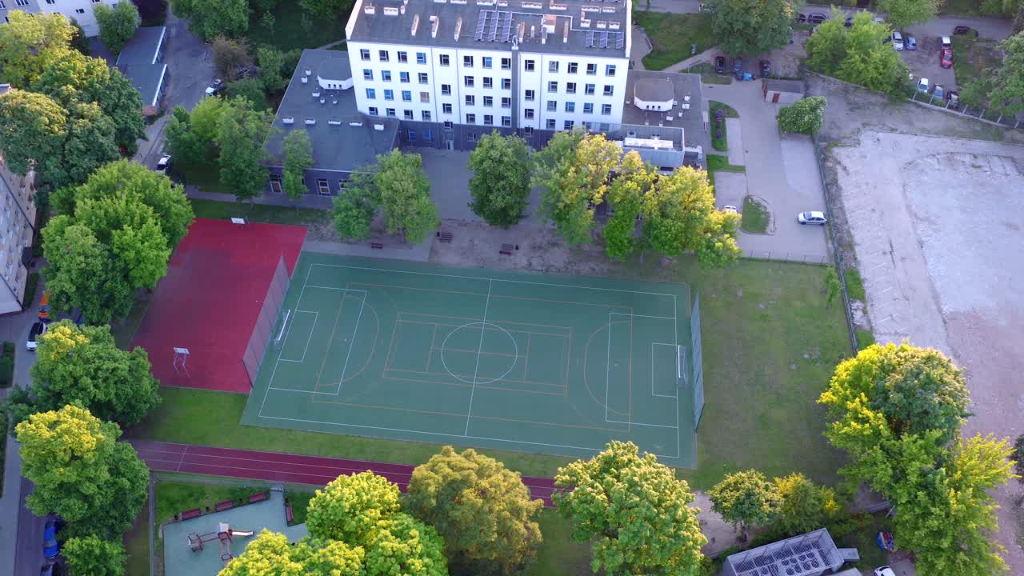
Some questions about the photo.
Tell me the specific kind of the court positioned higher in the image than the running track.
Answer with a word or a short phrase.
basketball court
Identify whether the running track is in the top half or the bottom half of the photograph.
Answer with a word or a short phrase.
bottom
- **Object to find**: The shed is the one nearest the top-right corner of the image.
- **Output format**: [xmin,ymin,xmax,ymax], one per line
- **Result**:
[764,74,808,103]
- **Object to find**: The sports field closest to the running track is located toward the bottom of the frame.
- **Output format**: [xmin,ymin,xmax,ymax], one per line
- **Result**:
[239,251,696,469]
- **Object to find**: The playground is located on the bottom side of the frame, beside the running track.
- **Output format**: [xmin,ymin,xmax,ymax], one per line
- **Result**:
[163,485,362,576]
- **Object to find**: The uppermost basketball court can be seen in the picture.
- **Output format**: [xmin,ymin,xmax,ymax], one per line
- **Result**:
[136,218,309,393]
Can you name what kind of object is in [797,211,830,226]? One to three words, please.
car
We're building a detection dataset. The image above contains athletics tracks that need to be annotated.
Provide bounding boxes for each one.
[120,439,624,514]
